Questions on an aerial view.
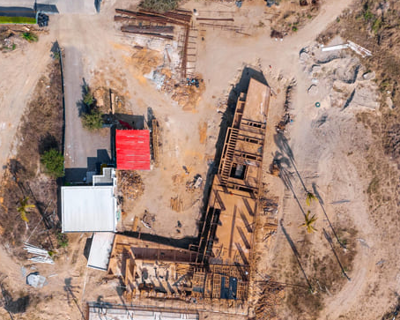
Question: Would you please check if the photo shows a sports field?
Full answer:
No, the picture doesn't show any sports field.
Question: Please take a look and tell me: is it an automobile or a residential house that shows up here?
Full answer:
The image shows a residential house.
